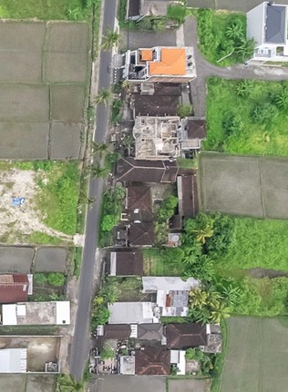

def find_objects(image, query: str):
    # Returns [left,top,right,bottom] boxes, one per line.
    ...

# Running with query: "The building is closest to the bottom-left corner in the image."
[0,349,26,373]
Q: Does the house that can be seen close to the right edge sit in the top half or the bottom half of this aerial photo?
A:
top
